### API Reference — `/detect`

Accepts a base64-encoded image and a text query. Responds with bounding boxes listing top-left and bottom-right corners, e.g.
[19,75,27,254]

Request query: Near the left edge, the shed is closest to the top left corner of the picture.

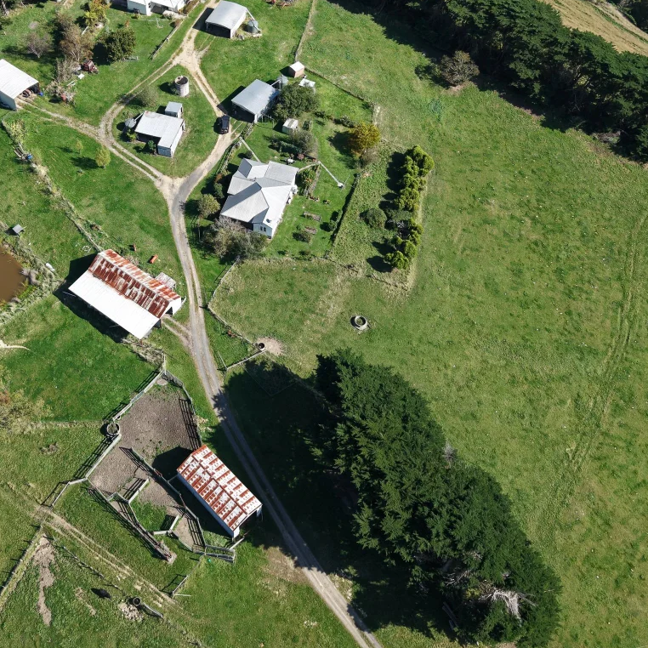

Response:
[0,59,41,111]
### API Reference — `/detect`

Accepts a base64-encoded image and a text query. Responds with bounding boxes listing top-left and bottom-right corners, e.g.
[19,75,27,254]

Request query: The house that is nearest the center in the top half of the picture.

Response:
[221,159,299,237]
